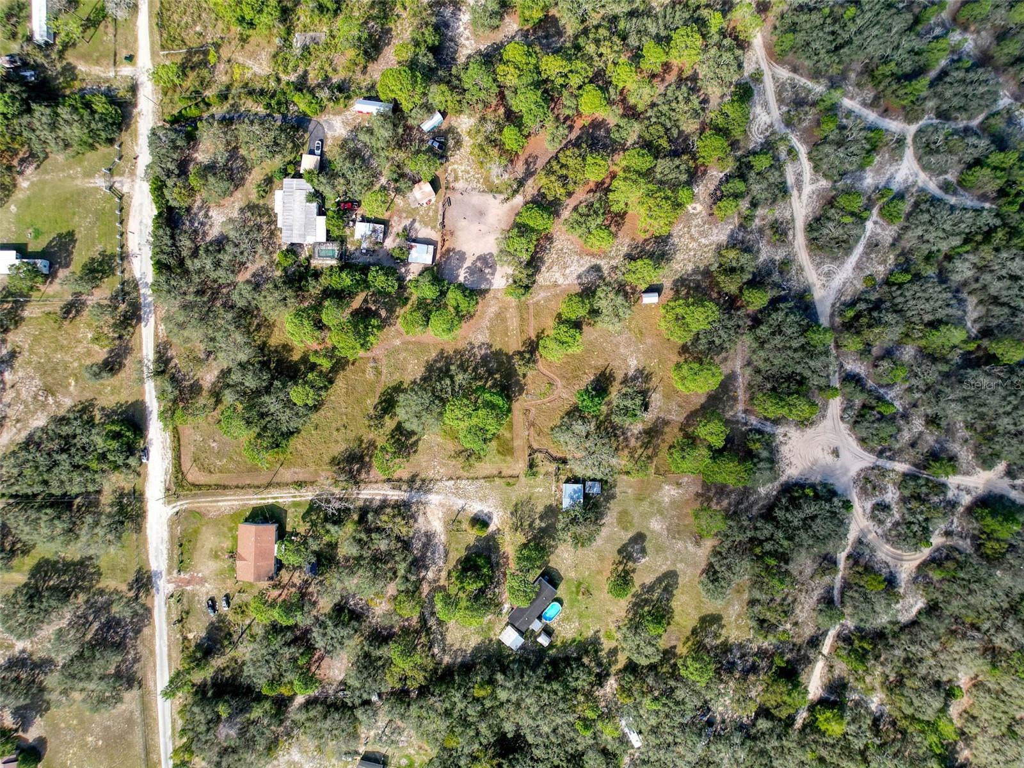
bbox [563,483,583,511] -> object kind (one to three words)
barn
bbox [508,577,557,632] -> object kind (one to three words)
house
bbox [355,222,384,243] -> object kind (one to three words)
shed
